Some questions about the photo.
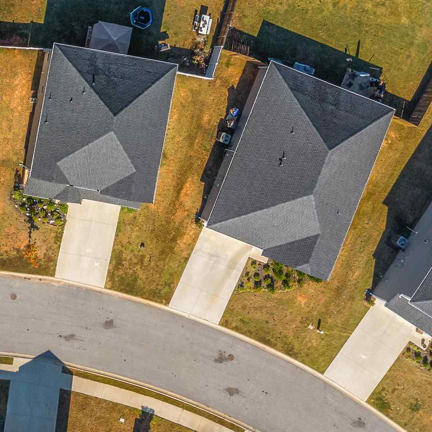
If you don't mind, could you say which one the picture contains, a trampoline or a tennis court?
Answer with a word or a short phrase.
trampoline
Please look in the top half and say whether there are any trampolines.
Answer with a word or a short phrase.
Yes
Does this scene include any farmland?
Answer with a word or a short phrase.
No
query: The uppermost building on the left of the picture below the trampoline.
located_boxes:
[18,43,179,209]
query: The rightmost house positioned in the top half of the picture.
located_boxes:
[196,62,395,282]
